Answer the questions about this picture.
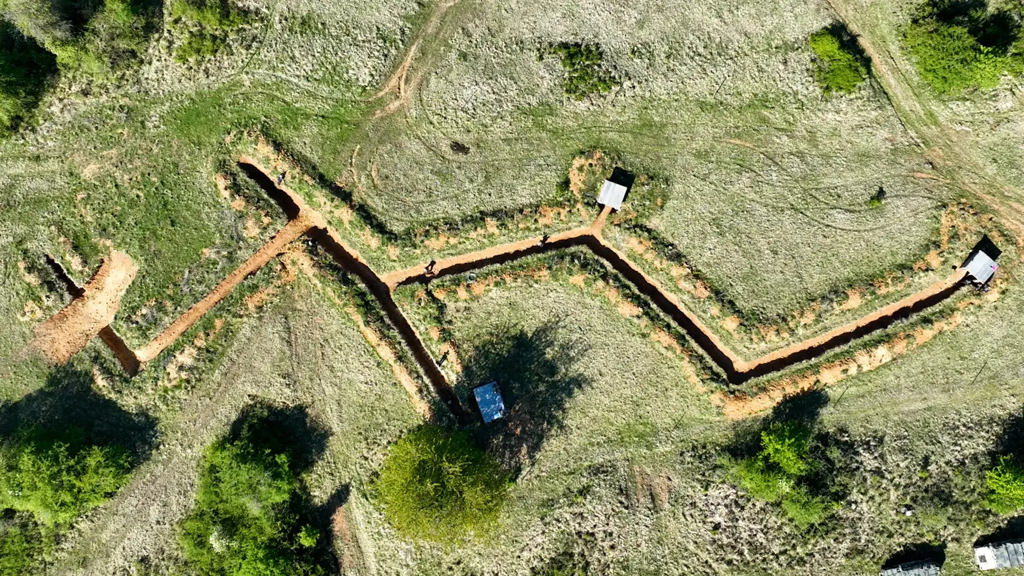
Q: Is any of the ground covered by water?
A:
No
